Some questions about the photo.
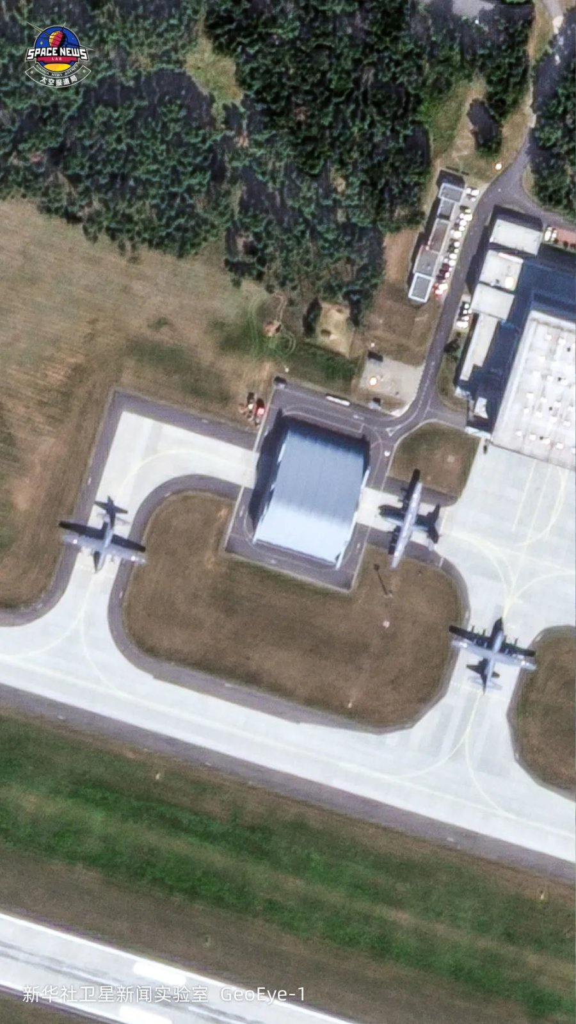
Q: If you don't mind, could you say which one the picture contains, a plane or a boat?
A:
plane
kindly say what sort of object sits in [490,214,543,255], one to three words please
building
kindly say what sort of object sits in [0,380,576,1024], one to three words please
airport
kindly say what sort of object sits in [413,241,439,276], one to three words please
building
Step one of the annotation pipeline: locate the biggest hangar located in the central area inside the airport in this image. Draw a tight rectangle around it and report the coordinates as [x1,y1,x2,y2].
[252,418,371,568]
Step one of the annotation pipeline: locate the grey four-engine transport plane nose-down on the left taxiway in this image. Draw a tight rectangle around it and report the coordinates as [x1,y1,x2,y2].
[62,512,147,571]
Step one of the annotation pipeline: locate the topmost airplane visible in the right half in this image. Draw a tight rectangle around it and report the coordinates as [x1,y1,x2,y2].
[381,484,445,568]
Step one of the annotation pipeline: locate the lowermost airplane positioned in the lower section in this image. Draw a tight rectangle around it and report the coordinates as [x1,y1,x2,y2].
[453,628,536,695]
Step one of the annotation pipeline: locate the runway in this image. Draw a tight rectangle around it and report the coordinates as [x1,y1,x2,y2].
[0,914,349,1024]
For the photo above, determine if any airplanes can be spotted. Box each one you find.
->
[62,512,147,571]
[381,484,445,568]
[453,628,536,695]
